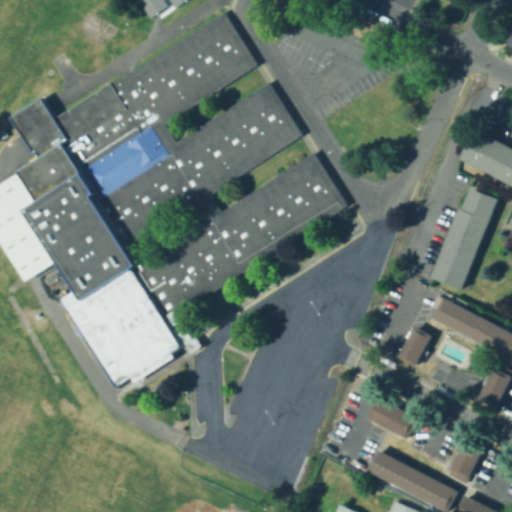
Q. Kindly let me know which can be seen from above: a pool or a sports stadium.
pool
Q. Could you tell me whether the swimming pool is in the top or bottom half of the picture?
bottom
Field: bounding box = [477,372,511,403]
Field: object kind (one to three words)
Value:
building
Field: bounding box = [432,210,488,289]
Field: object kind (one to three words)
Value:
building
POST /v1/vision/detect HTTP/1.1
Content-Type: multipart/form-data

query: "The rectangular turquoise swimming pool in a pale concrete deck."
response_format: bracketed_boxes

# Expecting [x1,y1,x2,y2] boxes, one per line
[436,335,476,370]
